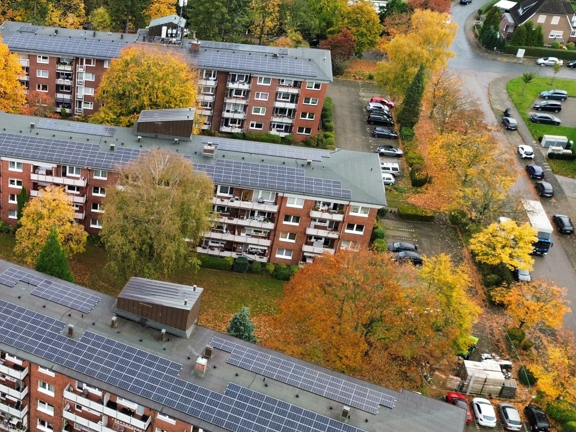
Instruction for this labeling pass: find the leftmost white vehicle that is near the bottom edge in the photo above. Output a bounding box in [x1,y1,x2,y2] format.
[469,399,500,431]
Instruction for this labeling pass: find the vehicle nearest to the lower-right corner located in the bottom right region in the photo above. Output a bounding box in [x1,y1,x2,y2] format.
[520,406,553,432]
